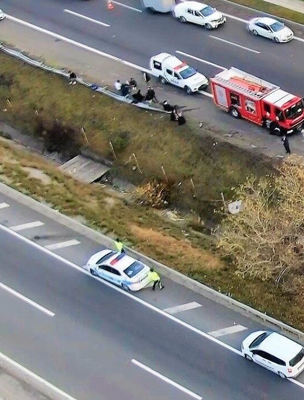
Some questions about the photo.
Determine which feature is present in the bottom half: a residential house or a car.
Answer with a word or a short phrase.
car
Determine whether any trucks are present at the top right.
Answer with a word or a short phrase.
Yes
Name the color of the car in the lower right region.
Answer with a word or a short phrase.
white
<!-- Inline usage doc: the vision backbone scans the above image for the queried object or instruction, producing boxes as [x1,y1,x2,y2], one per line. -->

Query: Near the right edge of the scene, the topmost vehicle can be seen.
[246,17,294,44]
